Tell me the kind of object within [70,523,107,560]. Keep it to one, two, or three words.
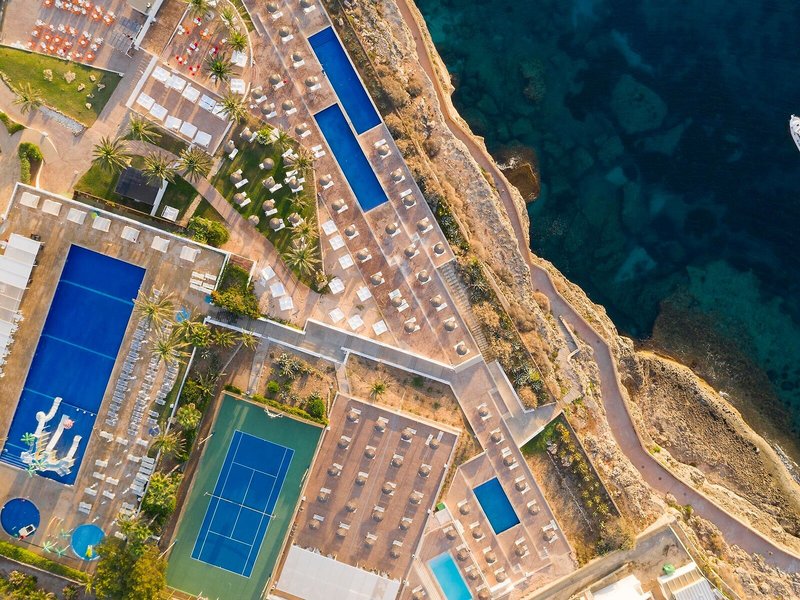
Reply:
swimming pool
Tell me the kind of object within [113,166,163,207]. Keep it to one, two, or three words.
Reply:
building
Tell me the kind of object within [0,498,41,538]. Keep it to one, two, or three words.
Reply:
swimming pool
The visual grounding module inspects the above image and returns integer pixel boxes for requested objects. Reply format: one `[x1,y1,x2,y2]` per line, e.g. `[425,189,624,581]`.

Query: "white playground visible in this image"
[22,397,81,477]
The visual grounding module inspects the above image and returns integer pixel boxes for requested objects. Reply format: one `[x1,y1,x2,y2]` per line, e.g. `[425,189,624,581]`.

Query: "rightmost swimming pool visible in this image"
[471,474,521,536]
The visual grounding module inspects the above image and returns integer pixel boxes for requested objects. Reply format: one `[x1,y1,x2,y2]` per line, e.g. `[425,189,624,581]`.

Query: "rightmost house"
[652,555,718,600]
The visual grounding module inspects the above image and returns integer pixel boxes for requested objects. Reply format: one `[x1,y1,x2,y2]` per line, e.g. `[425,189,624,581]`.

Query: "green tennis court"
[167,393,326,600]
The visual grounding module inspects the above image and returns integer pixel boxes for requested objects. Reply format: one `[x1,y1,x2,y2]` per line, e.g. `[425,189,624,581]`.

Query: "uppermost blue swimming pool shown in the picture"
[307,24,384,136]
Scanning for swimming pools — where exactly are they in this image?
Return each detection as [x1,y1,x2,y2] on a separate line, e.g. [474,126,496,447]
[70,523,107,560]
[307,24,384,136]
[0,498,41,538]
[0,242,148,488]
[427,550,475,600]
[471,474,521,536]
[312,102,389,213]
